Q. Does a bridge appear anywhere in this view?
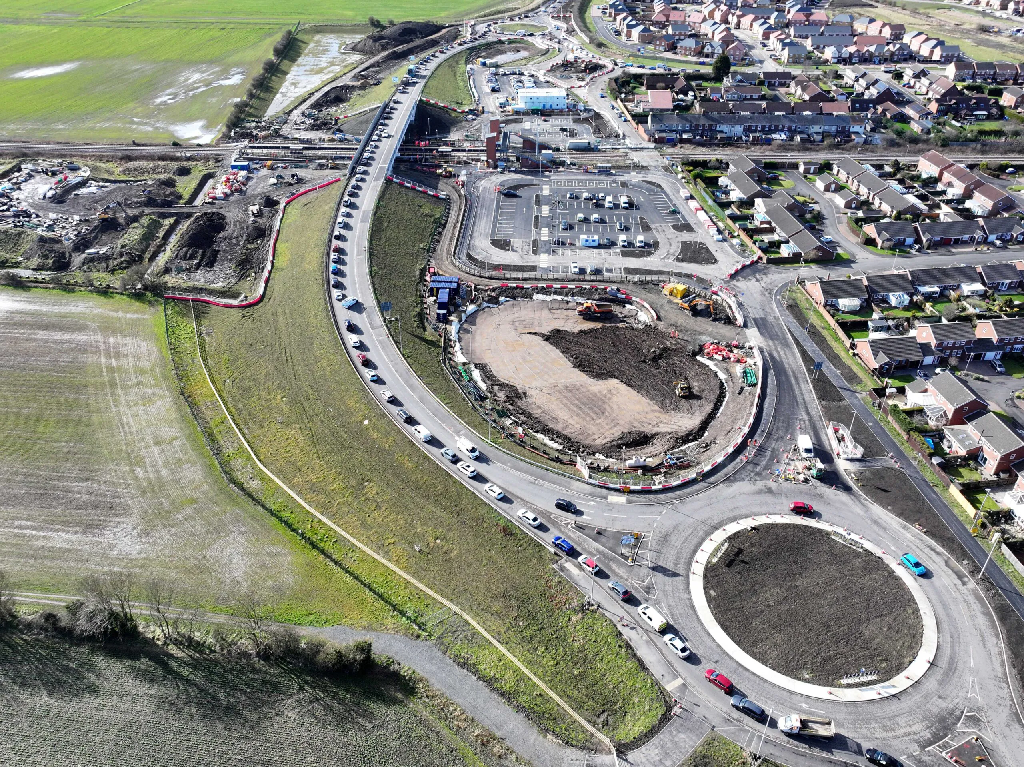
Yes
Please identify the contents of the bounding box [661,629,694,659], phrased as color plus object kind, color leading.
white car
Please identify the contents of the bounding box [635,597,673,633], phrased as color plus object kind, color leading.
white van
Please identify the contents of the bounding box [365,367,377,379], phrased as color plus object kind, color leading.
white vehicle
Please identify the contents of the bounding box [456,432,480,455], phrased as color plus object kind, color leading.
white vehicle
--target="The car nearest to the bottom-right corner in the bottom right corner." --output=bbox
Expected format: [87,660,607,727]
[865,742,909,767]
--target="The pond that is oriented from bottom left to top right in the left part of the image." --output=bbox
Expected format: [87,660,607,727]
[284,34,358,96]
